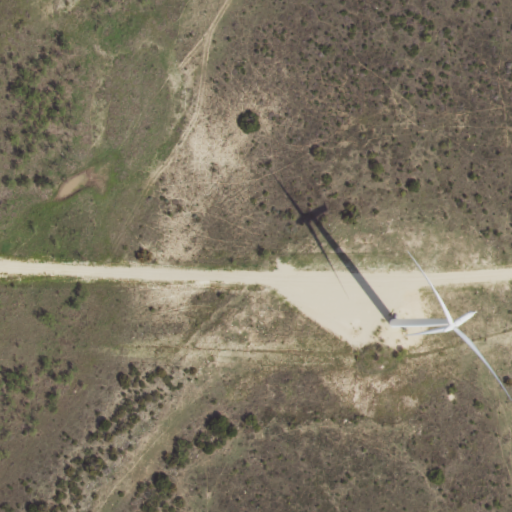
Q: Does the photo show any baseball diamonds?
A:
No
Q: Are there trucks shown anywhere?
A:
No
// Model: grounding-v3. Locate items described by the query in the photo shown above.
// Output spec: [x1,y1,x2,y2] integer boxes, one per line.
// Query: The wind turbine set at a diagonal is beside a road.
[388,256,512,400]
